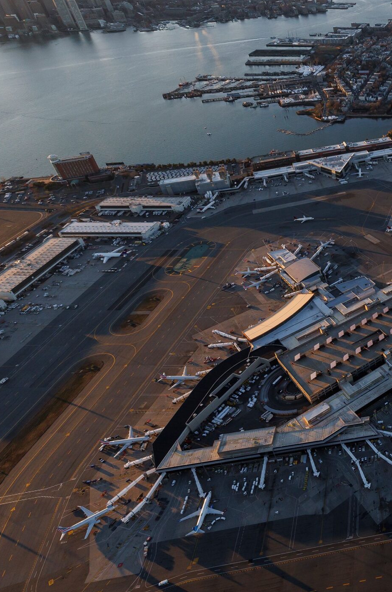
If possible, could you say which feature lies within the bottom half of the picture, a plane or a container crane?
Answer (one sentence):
Looking within the bottom half of the picture, you will find a plane.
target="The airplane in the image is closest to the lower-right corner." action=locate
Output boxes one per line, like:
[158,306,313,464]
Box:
[177,491,221,533]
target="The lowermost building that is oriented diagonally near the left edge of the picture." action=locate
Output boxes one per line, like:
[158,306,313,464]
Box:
[0,237,87,300]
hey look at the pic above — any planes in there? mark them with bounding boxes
[244,280,268,289]
[196,202,214,211]
[155,361,199,389]
[92,244,133,263]
[236,266,259,276]
[292,215,315,223]
[316,236,335,250]
[177,491,221,533]
[59,505,118,537]
[99,424,152,455]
